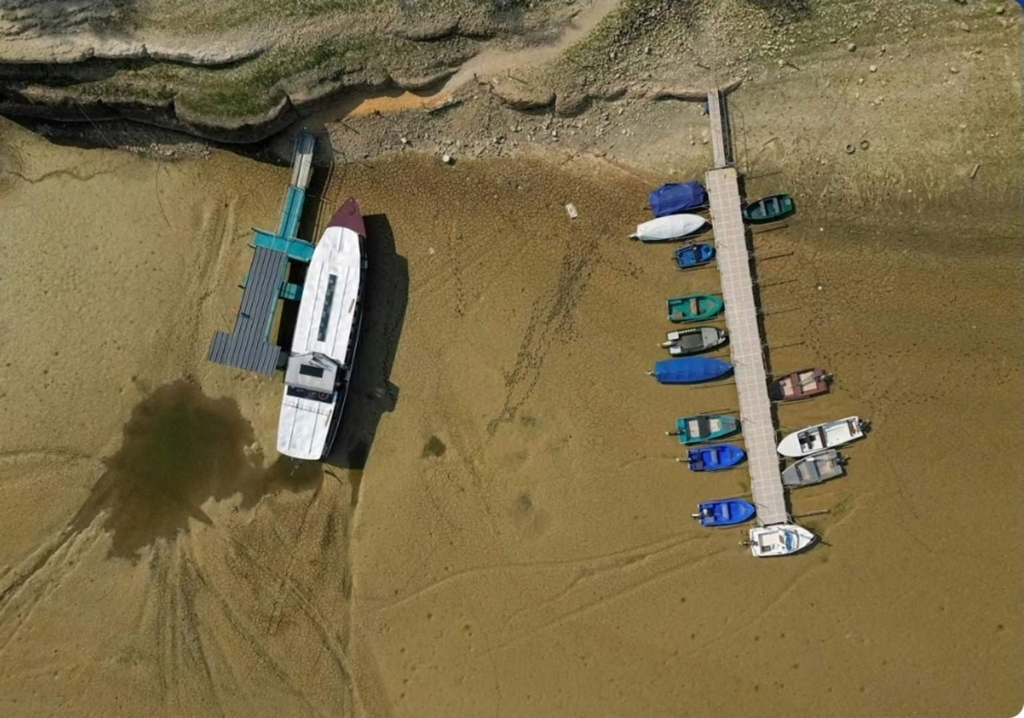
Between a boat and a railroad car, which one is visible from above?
boat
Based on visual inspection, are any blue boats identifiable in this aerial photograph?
Yes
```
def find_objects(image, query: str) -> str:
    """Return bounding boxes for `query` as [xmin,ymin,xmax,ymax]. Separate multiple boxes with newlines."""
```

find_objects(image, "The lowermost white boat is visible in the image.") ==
[737,525,830,556]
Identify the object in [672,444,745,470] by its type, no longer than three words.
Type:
boat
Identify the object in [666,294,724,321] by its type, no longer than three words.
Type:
boat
